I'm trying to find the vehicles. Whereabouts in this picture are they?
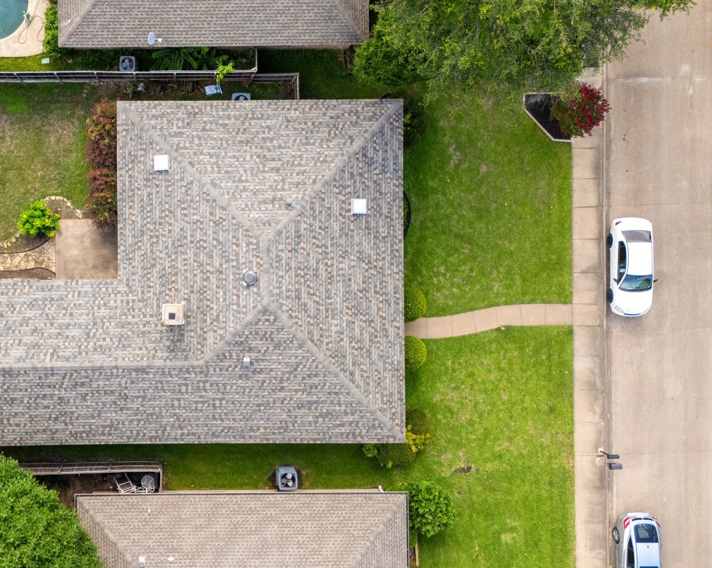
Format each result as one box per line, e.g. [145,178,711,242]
[606,219,661,317]
[610,509,662,568]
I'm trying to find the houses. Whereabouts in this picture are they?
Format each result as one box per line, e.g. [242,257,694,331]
[0,99,406,447]
[57,0,370,56]
[72,484,411,568]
